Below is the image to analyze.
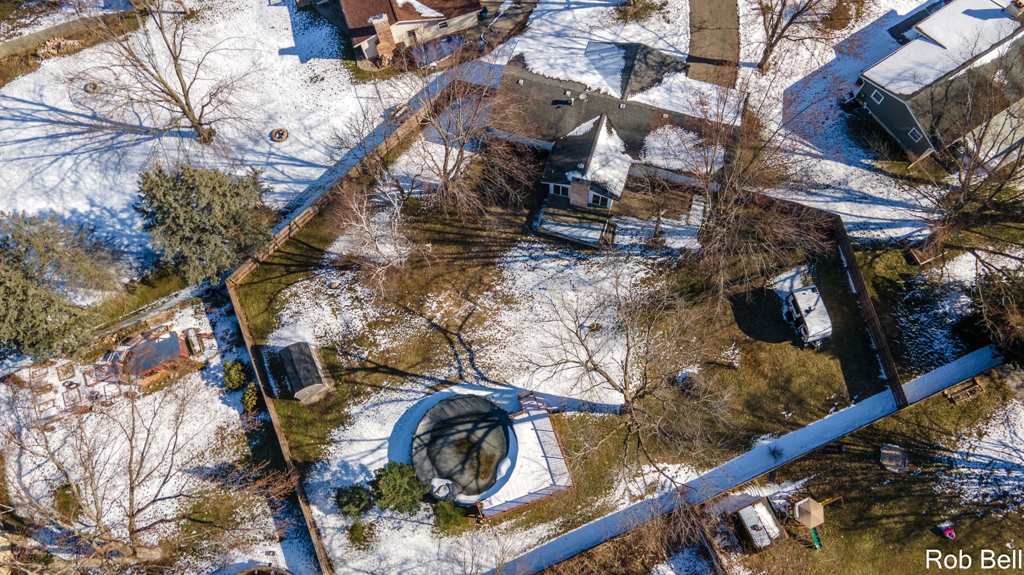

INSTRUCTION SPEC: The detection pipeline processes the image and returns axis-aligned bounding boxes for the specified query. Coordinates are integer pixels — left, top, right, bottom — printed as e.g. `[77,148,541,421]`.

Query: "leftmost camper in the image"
[784,288,831,359]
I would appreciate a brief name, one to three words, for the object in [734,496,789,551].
shed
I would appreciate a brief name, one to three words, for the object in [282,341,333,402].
shed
